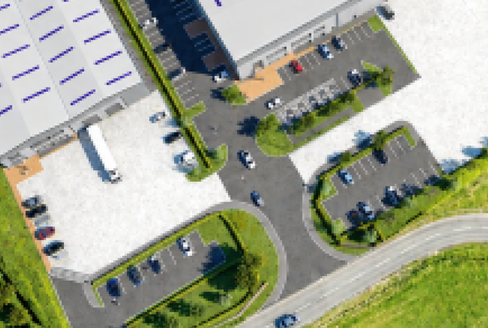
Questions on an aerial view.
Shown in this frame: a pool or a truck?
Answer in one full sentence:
Looking from above, you can make out a truck.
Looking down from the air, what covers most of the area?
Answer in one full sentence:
Most of the picture is covered by paved ground.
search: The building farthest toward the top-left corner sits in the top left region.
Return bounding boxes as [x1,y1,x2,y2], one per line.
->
[0,0,145,169]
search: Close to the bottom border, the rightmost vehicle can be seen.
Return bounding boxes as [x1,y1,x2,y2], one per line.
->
[275,313,303,328]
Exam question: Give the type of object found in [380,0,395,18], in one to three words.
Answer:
vehicle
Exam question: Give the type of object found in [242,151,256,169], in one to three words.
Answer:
car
